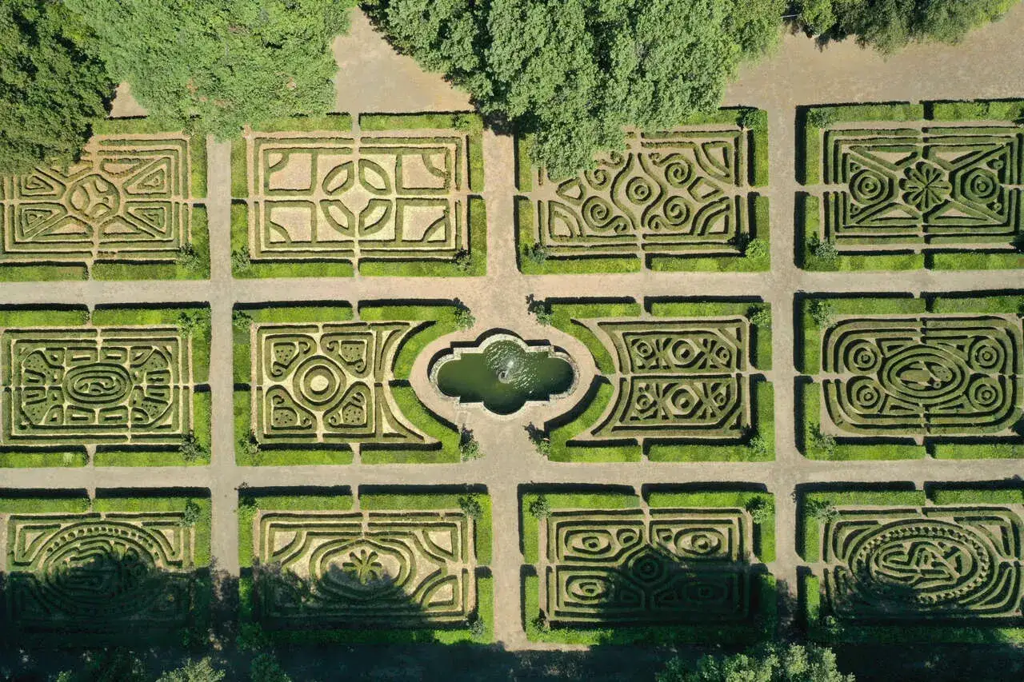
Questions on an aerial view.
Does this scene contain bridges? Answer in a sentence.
No, there is no bridge in the image.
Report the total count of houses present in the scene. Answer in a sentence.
The picture shows no houses.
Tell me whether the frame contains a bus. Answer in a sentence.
No, the picture doesn't show any bus.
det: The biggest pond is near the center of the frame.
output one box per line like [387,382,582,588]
[434,336,578,419]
